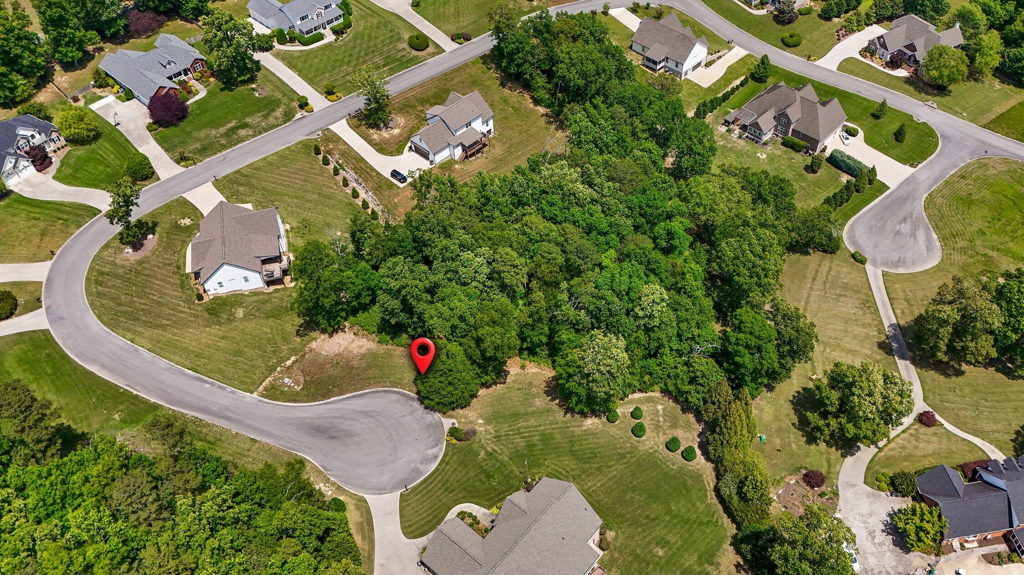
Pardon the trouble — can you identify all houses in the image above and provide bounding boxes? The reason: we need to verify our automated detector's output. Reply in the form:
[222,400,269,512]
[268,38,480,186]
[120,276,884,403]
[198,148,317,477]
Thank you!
[417,476,613,575]
[630,12,708,82]
[712,79,847,152]
[187,199,293,297]
[864,14,965,75]
[0,112,68,185]
[408,89,495,164]
[914,451,1024,558]
[247,0,344,37]
[98,27,209,106]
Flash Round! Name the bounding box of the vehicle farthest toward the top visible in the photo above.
[839,129,854,145]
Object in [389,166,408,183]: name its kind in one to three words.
car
